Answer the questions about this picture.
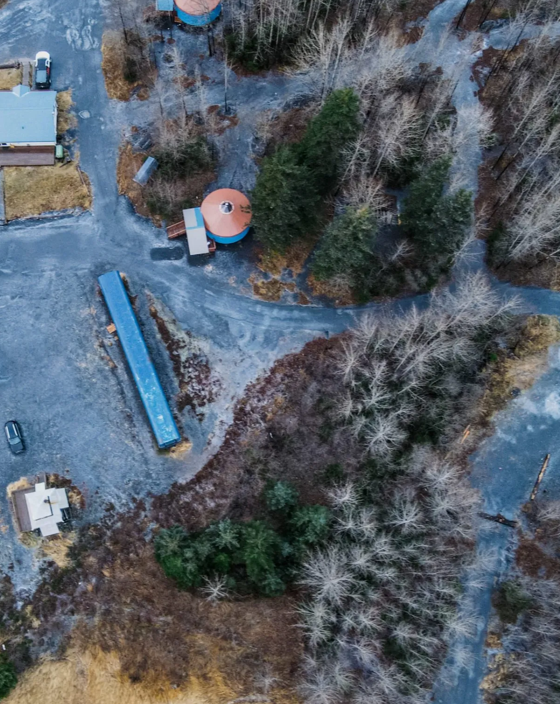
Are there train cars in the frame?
Yes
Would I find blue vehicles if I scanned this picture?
Yes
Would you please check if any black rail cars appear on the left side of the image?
No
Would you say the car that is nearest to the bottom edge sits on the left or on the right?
left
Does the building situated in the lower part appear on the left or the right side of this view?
left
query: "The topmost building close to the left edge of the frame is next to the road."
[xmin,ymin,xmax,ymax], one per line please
[0,83,61,152]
